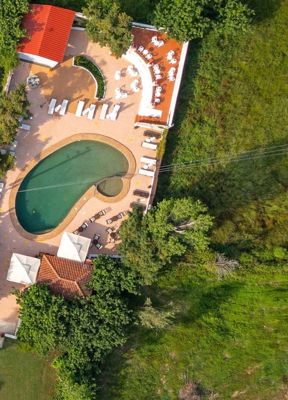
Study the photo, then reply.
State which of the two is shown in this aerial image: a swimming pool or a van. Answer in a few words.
swimming pool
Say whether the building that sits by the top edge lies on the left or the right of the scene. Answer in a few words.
left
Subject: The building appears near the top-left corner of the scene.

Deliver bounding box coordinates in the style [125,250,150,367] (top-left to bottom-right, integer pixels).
[14,4,76,65]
